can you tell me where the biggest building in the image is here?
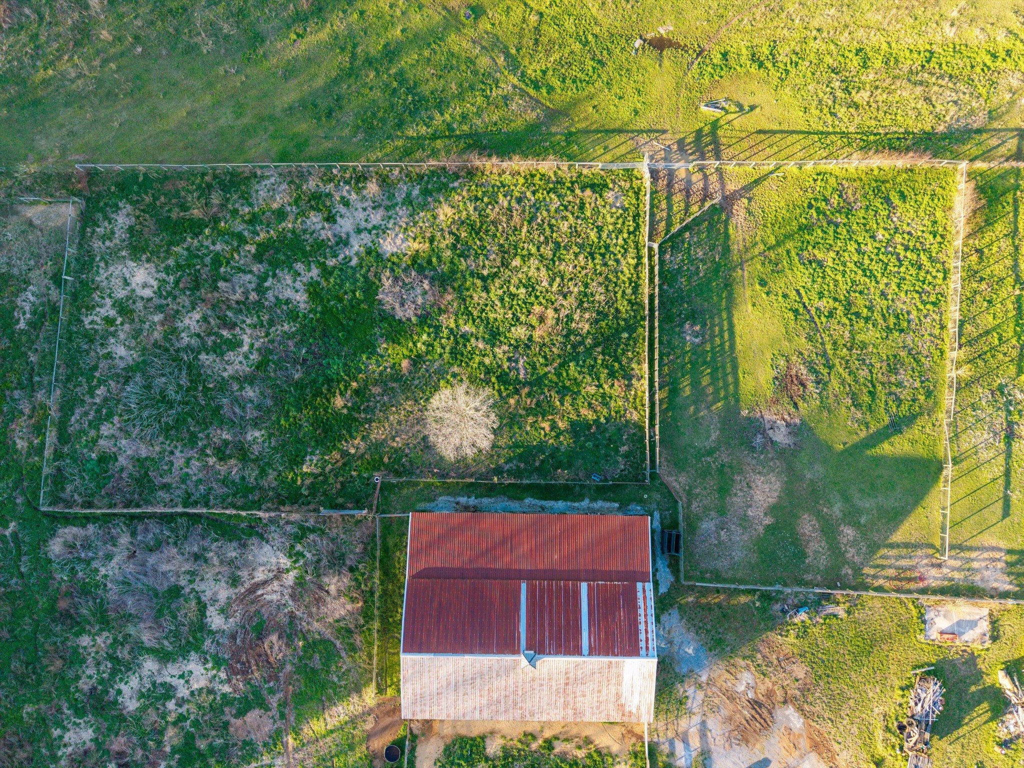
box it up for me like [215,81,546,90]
[398,512,658,721]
